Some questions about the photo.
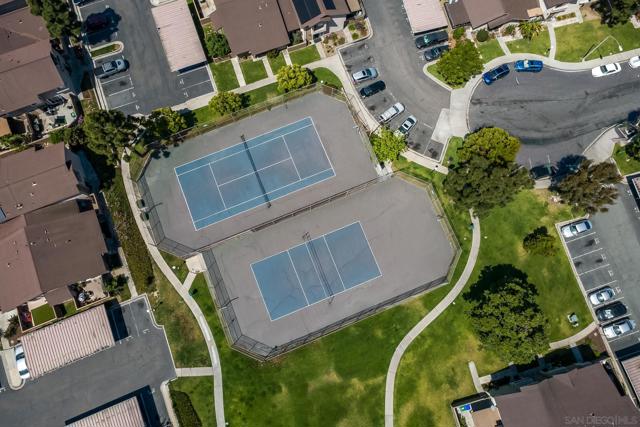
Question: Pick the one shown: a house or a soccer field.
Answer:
house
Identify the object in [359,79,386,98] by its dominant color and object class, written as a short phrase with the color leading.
black car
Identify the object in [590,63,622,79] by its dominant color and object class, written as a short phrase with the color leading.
white car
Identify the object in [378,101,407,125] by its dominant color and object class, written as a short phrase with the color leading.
white car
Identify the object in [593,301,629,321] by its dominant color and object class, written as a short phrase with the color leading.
black car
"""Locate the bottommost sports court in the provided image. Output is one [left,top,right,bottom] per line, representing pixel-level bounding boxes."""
[202,171,461,361]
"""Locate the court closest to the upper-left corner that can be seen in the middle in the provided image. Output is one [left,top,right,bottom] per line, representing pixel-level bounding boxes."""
[136,86,379,256]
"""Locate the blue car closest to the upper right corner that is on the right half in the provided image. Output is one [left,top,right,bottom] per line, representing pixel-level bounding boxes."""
[514,58,543,74]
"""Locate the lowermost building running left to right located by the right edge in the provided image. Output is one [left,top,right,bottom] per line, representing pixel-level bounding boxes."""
[484,361,640,427]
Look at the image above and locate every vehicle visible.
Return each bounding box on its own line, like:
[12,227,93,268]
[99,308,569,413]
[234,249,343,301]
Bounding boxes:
[529,164,555,179]
[414,30,449,50]
[422,43,448,62]
[585,286,618,306]
[481,64,510,84]
[394,113,419,138]
[593,301,629,321]
[590,63,622,79]
[514,58,543,74]
[560,219,594,238]
[351,66,379,84]
[600,316,635,338]
[11,346,29,380]
[359,79,386,98]
[627,56,640,70]
[378,101,407,125]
